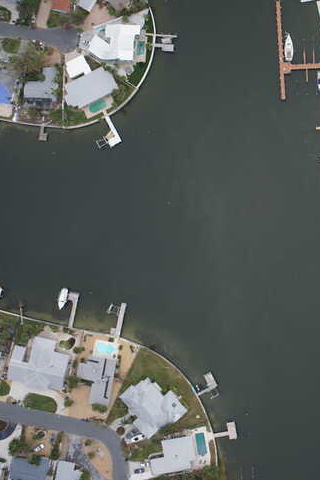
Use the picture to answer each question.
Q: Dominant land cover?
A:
water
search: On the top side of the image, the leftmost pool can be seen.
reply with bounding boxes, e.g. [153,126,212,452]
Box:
[87,97,108,113]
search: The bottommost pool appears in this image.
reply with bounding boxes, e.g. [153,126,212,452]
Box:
[195,433,207,456]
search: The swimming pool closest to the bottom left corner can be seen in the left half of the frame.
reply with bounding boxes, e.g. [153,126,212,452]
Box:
[95,341,116,354]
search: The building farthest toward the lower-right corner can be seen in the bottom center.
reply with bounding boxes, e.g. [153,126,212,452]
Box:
[148,433,198,476]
